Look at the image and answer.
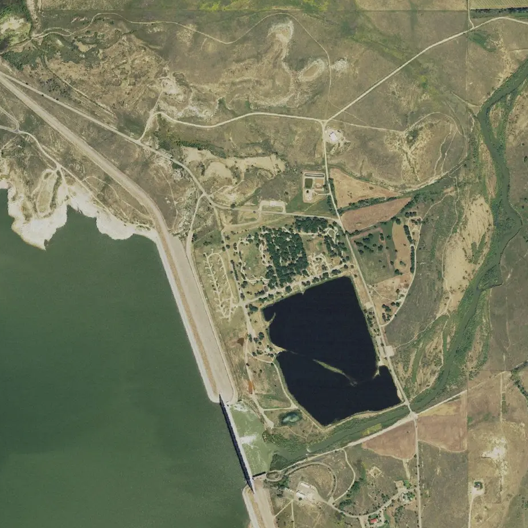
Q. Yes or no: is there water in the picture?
Yes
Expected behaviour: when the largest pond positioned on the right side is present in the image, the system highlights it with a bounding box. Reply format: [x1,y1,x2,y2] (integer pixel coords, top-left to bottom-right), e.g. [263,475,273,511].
[262,277,399,426]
